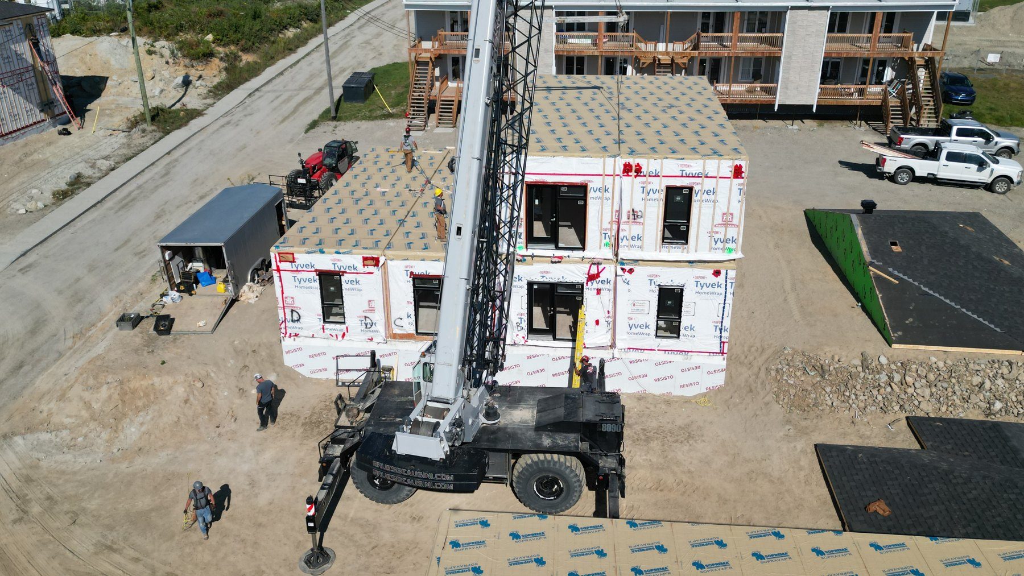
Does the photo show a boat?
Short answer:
No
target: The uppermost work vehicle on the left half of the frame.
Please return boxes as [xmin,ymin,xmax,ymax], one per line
[259,135,371,206]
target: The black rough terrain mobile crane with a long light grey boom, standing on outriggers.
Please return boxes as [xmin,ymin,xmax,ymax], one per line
[298,0,630,575]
